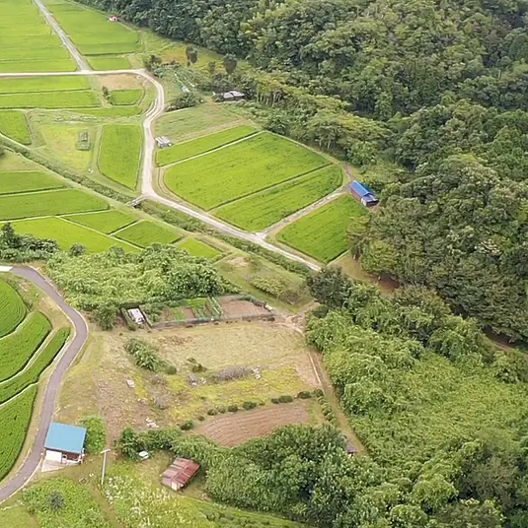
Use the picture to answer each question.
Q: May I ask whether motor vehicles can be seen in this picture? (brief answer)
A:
No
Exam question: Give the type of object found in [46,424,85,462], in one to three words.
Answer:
building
